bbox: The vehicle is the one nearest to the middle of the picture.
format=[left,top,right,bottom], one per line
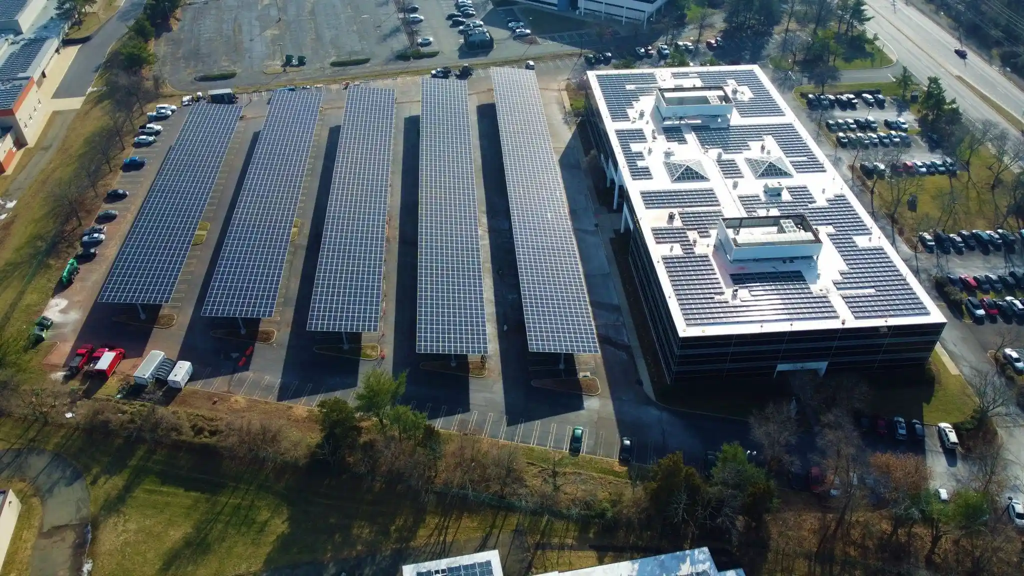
[570,427,584,454]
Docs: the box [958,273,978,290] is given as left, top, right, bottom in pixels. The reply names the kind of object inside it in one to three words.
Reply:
car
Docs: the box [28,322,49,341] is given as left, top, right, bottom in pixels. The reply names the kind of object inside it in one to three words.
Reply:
work vehicle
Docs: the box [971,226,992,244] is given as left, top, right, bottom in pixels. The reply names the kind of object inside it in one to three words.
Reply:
vehicle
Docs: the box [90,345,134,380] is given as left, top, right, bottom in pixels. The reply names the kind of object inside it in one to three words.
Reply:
truck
